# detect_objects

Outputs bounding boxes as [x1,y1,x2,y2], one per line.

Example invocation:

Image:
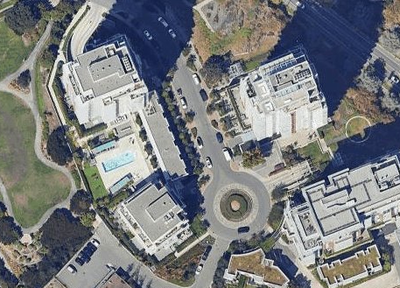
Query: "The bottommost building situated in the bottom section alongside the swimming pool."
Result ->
[118,184,193,264]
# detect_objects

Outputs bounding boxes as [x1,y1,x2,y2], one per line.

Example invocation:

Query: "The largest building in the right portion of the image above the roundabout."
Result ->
[237,53,328,141]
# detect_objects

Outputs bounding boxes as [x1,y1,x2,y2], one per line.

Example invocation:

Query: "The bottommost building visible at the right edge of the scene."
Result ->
[317,245,381,288]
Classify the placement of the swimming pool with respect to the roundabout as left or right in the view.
on its left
